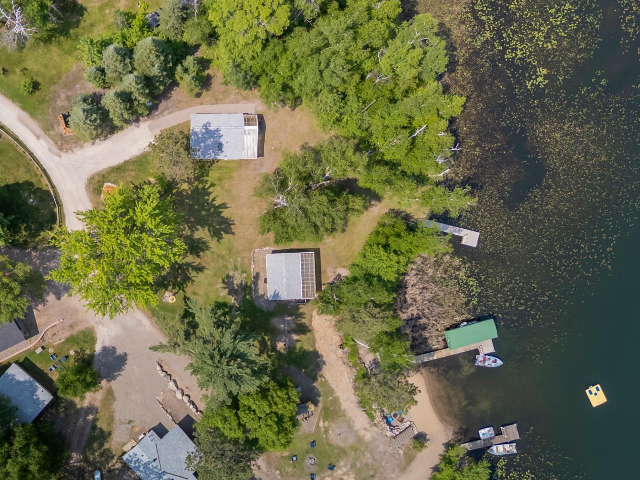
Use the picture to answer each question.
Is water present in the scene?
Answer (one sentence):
Yes, some water is visible.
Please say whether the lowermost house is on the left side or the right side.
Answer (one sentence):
It is on the left.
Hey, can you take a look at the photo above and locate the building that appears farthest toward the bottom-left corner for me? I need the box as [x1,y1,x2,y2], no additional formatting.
[0,363,54,422]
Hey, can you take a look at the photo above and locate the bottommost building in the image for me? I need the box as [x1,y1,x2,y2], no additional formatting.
[122,425,203,480]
